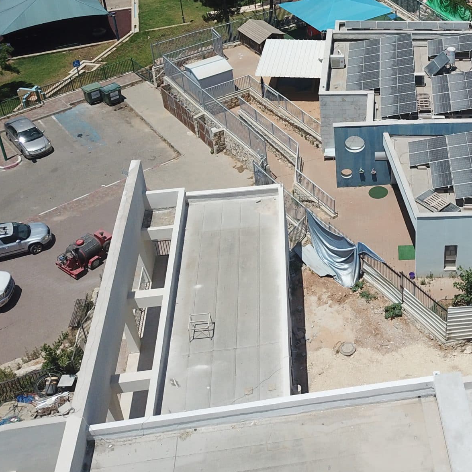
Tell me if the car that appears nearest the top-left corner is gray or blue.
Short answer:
gray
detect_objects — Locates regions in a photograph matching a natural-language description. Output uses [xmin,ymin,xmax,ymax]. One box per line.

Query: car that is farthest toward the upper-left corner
[1,114,51,158]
